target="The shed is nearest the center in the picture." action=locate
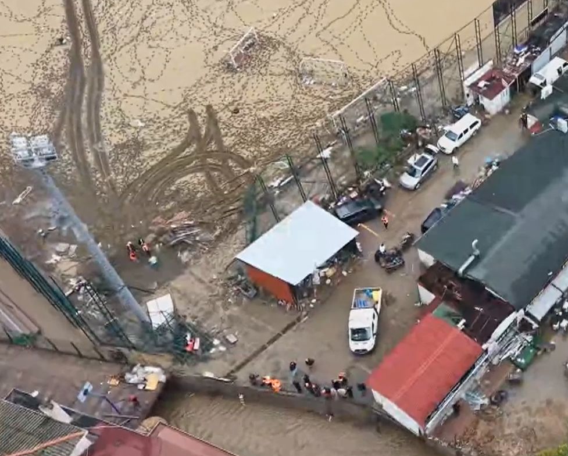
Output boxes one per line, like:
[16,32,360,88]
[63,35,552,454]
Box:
[235,201,361,305]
